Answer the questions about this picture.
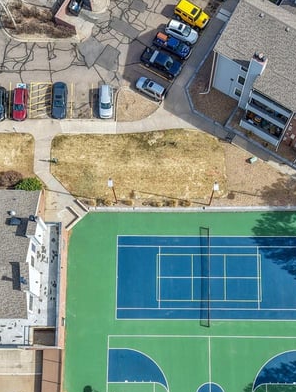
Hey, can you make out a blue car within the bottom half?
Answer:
No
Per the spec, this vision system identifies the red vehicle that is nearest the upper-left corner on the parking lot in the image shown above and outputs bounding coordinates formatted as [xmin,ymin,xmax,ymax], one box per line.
[10,88,30,123]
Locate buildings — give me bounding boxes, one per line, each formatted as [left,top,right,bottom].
[205,0,296,144]
[0,189,62,352]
